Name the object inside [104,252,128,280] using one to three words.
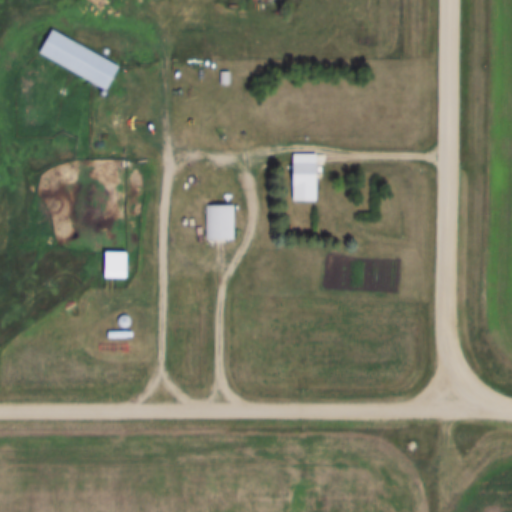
shed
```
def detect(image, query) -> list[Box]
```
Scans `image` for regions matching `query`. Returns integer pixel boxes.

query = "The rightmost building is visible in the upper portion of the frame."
[292,153,327,202]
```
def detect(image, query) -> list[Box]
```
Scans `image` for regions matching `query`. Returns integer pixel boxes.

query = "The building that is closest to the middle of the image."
[206,204,236,246]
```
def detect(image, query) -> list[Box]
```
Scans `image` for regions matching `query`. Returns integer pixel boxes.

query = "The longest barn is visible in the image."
[39,28,120,90]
